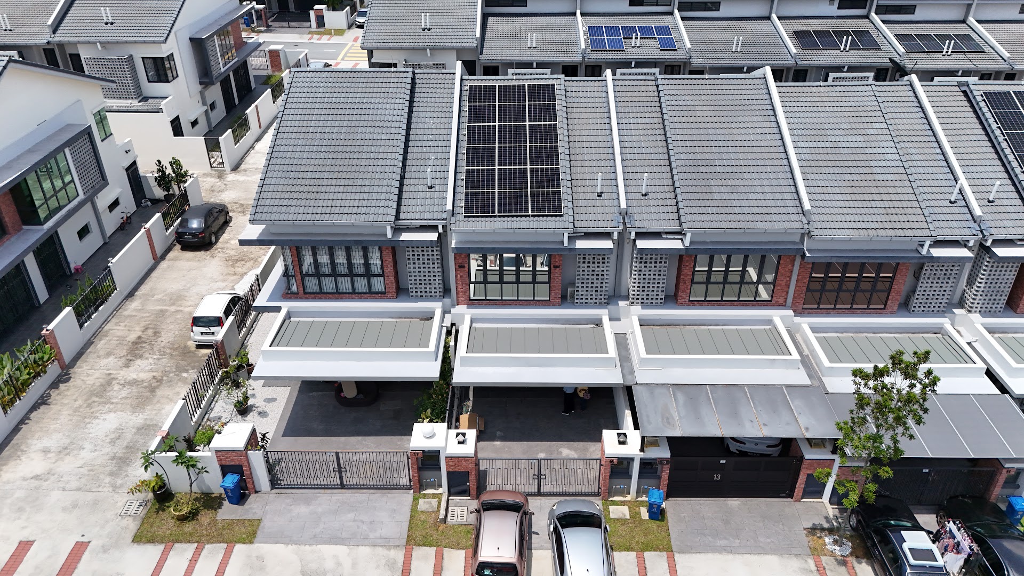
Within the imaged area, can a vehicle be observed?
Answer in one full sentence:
Yes, there's a vehicle down there.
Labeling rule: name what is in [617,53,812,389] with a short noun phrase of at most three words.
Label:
house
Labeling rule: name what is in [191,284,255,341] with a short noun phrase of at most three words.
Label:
car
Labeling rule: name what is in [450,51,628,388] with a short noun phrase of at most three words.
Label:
house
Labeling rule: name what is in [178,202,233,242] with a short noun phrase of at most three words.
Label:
car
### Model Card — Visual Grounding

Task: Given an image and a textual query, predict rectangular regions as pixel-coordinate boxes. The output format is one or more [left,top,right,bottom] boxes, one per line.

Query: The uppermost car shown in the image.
[356,6,369,25]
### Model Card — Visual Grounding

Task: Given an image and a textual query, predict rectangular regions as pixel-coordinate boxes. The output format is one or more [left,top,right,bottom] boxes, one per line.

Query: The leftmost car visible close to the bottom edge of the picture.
[470,488,533,576]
